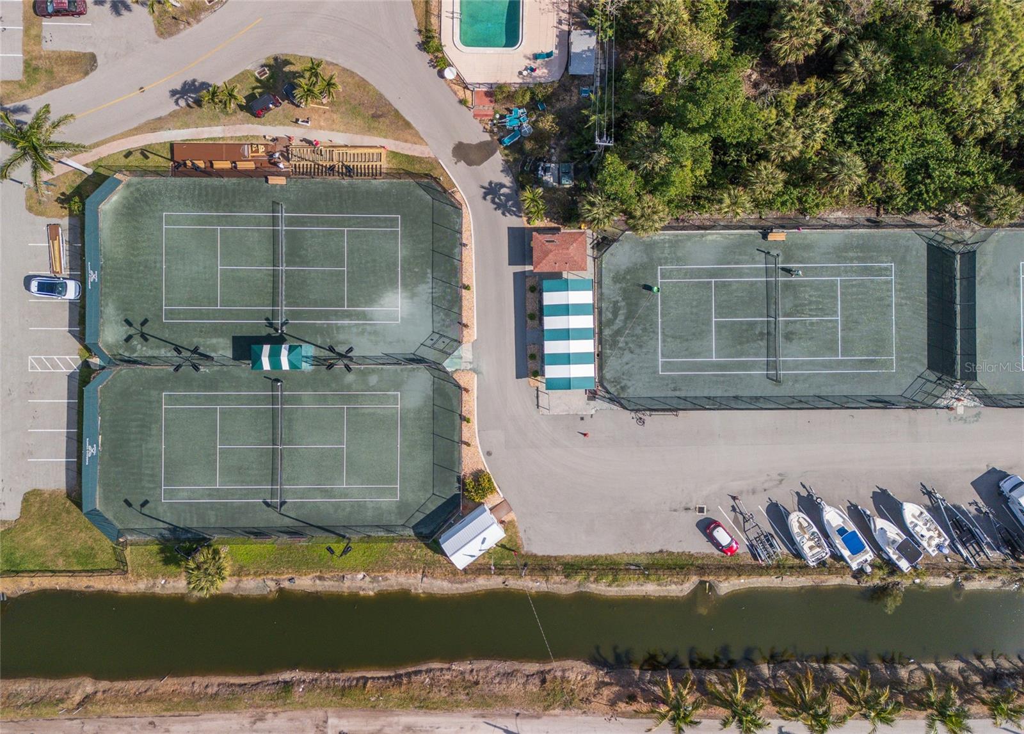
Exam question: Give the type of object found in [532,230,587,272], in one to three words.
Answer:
building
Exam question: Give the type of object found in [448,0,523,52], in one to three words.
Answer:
swimming pool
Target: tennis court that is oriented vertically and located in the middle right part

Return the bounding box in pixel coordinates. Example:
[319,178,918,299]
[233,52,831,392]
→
[960,232,1024,407]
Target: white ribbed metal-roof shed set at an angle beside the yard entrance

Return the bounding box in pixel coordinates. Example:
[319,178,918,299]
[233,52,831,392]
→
[437,502,508,572]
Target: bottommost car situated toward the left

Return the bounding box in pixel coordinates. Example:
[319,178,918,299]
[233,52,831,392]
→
[30,277,83,299]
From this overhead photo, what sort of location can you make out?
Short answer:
sports ground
